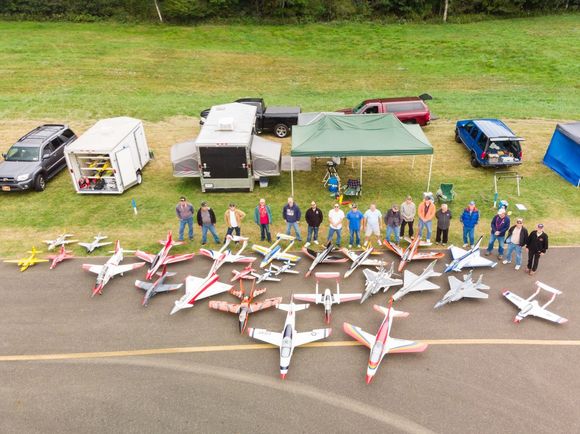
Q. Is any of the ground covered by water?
No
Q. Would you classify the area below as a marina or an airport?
airport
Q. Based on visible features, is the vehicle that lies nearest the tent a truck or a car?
car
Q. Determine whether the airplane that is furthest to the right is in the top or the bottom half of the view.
bottom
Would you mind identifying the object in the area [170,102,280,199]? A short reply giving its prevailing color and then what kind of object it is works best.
white camper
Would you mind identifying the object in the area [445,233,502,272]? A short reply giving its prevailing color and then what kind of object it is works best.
white airplane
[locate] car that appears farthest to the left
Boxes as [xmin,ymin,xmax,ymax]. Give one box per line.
[0,124,77,190]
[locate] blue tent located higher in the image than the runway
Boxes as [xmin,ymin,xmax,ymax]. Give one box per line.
[539,119,580,189]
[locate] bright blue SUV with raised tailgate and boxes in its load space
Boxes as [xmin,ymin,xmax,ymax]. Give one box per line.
[455,116,535,167]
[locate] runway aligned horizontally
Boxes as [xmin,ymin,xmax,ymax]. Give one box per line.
[0,247,580,434]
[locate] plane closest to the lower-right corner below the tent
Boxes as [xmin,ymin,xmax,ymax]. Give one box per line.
[499,272,570,323]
